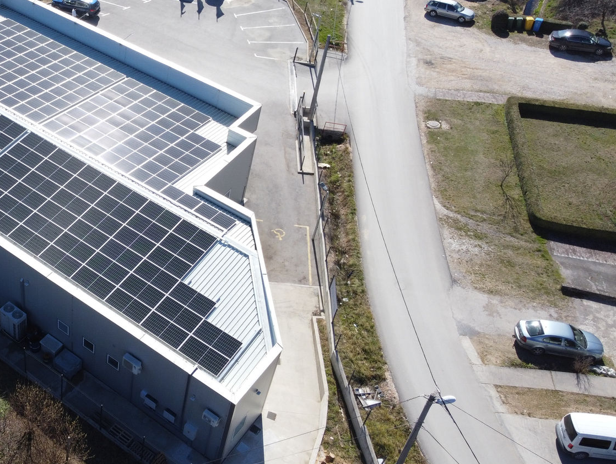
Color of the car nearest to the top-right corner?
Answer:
black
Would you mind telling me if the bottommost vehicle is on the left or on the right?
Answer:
right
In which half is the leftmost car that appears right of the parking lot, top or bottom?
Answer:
top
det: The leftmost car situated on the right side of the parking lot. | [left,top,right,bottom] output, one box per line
[424,0,476,24]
